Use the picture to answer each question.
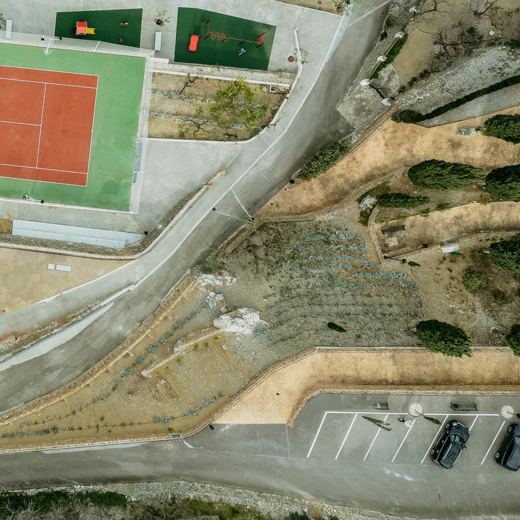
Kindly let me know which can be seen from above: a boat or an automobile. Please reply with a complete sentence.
There is an automobile in the scene.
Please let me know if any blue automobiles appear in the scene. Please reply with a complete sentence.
No, there's no blue automobile here.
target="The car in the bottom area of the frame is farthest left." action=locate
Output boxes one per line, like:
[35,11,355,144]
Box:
[433,422,471,471]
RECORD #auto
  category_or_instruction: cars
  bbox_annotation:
[497,424,520,473]
[433,422,471,471]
